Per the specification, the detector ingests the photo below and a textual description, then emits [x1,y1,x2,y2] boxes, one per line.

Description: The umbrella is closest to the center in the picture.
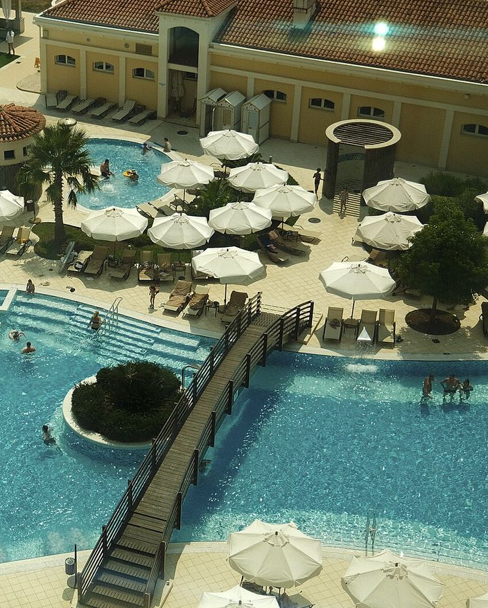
[189,249,263,312]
